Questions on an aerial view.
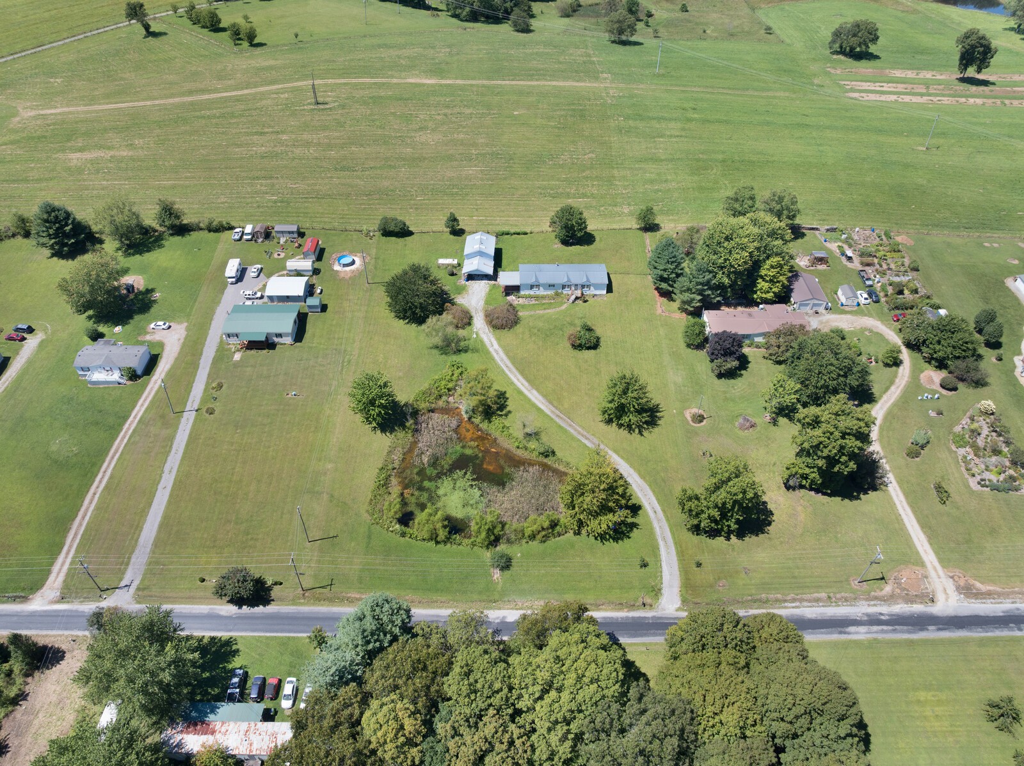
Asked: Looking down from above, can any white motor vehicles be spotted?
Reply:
Yes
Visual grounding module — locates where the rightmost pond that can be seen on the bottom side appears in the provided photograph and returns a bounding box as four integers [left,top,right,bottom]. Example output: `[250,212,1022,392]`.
[396,411,567,538]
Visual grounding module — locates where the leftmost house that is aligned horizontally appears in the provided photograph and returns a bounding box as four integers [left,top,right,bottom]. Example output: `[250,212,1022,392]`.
[73,344,155,376]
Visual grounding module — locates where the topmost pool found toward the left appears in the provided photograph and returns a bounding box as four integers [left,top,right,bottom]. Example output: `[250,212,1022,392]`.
[335,256,355,271]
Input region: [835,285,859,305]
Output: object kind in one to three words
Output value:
shed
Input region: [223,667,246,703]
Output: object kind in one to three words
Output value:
truck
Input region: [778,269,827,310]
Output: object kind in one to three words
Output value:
building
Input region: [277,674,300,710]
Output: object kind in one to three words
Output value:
car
